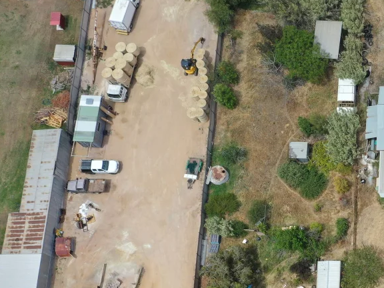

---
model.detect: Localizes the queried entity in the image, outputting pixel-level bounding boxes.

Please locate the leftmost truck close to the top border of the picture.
[109,0,142,37]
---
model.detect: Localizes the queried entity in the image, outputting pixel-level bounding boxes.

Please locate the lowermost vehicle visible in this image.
[64,176,108,194]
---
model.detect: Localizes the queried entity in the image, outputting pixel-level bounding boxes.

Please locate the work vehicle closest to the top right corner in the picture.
[183,36,206,83]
